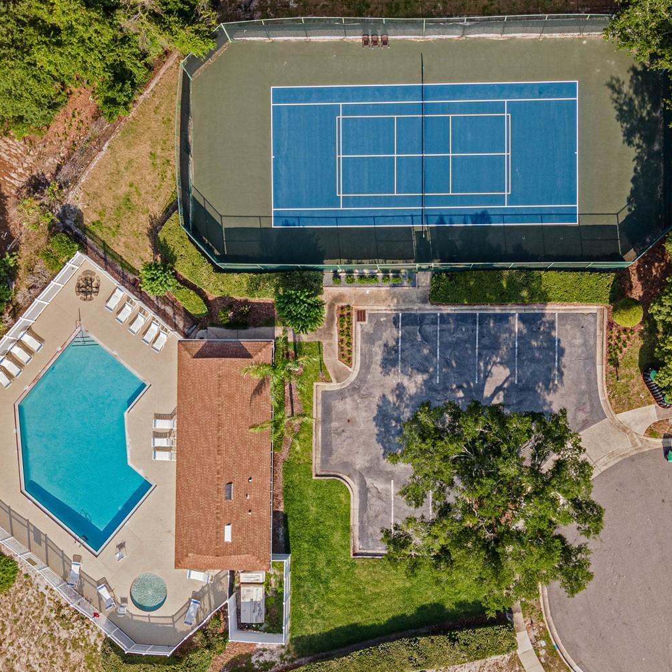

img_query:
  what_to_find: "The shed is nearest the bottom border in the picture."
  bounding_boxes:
[241,581,267,622]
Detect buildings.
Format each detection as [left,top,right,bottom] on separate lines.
[241,581,267,622]
[177,338,275,571]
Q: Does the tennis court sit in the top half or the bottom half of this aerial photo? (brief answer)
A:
top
